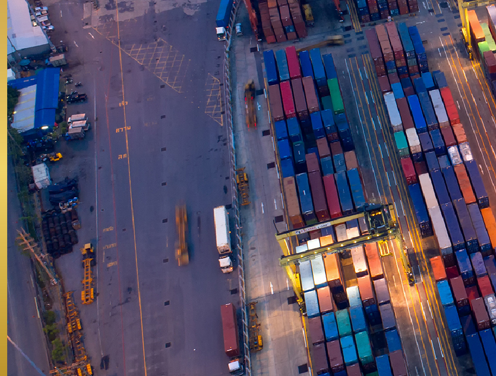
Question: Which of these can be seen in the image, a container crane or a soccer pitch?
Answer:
container crane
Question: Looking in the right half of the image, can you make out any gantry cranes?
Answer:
Yes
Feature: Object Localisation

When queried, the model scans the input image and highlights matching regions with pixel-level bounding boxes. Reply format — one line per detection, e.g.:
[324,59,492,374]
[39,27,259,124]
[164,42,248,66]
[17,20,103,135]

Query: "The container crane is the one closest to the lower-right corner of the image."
[268,194,415,318]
